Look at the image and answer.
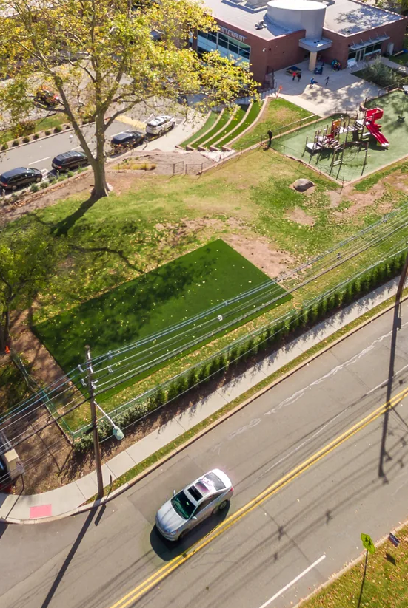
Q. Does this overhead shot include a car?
Yes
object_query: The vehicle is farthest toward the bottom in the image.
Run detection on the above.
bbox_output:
[149,466,235,539]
